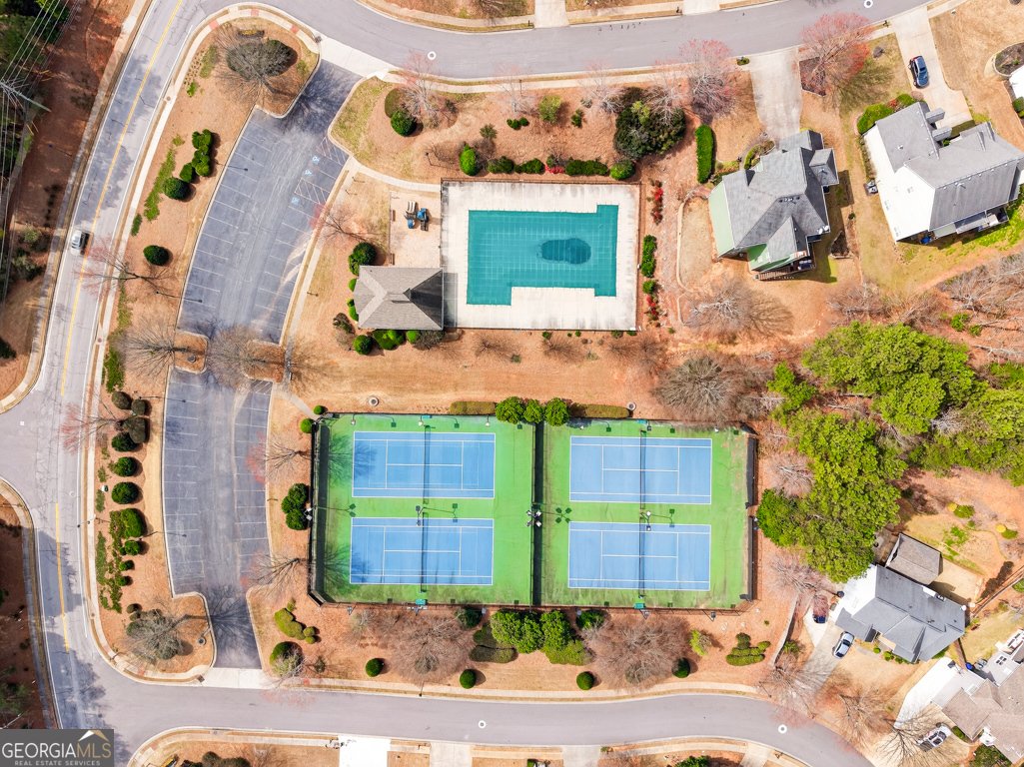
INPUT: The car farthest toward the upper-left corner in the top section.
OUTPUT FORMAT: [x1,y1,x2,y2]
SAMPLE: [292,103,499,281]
[67,226,85,255]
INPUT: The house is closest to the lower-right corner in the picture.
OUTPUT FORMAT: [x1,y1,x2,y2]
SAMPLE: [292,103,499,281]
[933,628,1024,766]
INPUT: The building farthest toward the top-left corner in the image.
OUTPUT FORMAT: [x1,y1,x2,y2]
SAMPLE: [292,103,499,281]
[354,265,443,330]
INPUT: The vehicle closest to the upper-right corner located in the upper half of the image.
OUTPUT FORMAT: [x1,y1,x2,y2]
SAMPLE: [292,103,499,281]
[911,54,930,85]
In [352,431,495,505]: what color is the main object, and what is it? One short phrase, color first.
blue tennis court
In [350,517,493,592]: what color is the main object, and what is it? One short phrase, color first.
blue tennis court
